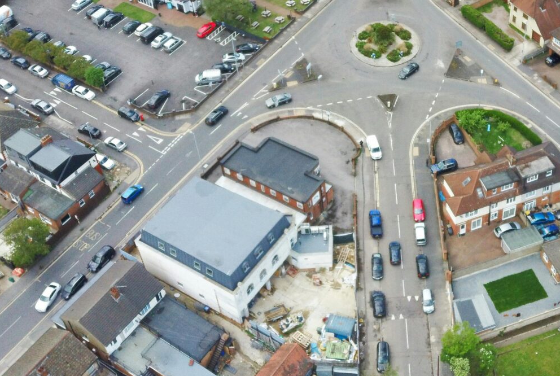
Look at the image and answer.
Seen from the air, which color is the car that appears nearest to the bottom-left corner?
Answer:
white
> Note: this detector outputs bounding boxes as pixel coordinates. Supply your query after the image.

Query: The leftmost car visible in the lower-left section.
[35,284,62,311]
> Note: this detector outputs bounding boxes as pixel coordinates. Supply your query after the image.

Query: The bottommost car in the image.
[376,342,390,373]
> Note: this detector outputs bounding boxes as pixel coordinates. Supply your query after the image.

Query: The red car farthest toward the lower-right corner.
[413,199,426,222]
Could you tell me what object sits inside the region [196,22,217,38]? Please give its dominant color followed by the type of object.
red car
